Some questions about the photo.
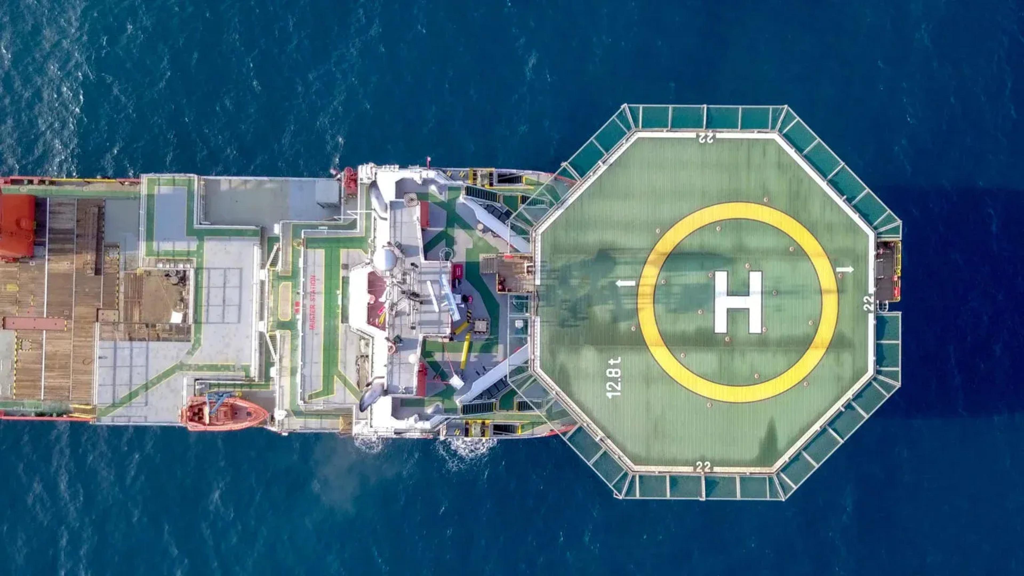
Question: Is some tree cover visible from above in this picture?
No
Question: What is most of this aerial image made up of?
water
